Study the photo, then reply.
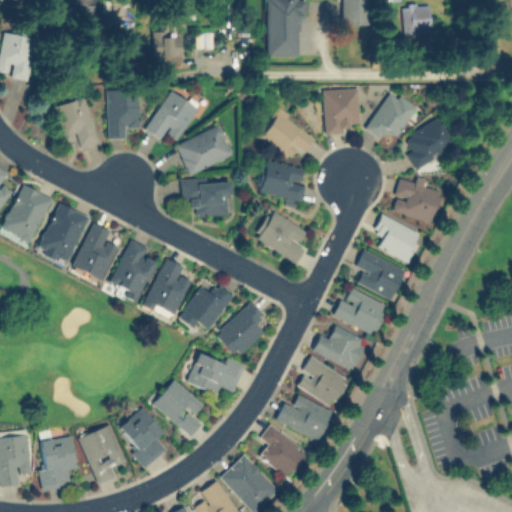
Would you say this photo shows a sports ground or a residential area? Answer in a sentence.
It's a residential area.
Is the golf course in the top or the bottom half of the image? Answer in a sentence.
The golf course sits in the bottom half of the picture.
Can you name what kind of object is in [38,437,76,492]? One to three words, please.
house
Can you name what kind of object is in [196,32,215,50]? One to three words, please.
building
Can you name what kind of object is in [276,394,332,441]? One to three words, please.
house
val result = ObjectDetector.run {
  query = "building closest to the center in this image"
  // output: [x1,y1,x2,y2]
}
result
[258,212,306,266]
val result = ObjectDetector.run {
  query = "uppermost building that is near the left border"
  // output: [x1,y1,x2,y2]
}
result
[0,31,32,80]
